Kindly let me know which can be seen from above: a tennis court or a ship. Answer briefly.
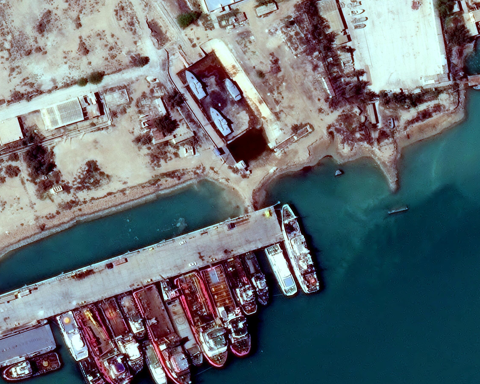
ship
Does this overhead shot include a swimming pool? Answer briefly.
No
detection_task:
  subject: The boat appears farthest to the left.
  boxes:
[4,353,60,380]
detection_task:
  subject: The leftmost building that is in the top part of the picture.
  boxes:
[0,117,24,144]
